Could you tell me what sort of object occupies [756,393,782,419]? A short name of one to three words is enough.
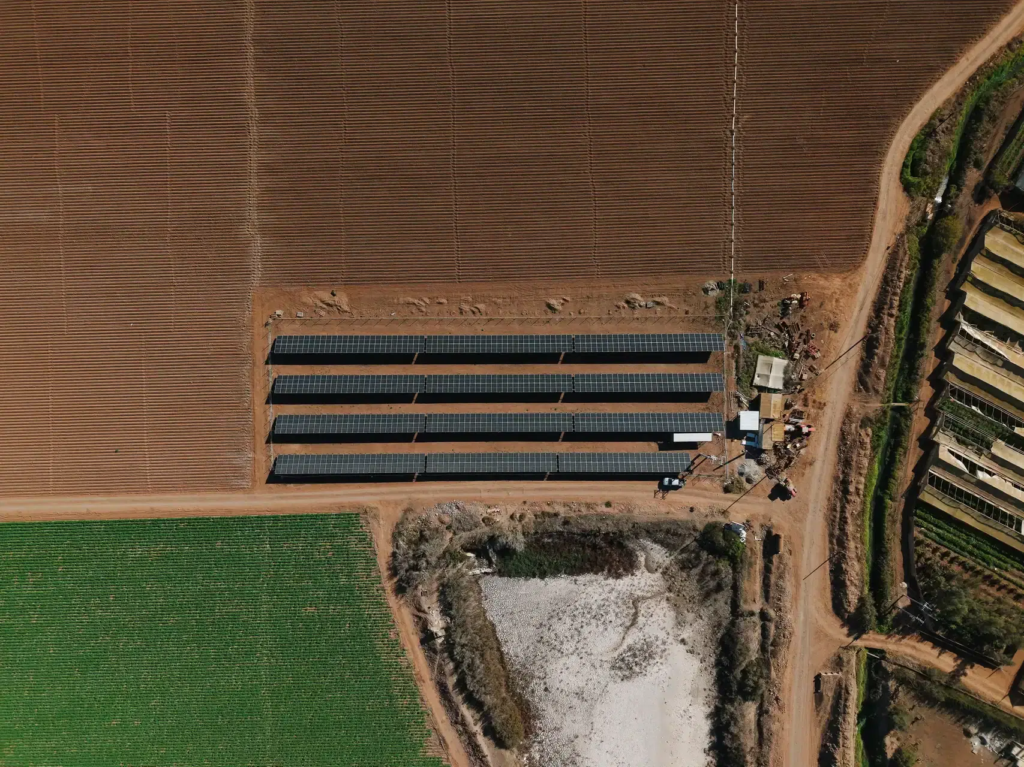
shed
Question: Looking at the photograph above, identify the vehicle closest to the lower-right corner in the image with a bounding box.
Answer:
[780,476,797,496]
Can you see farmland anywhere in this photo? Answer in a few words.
Yes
